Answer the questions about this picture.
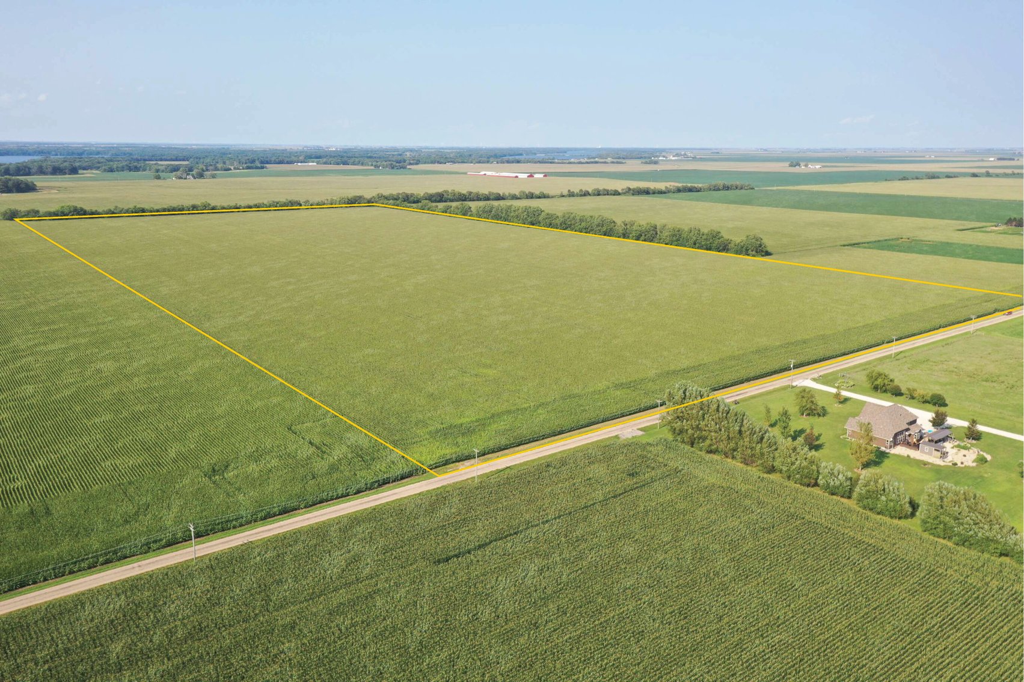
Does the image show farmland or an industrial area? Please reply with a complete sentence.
The picture captures farmland.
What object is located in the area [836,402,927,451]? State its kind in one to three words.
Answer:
house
